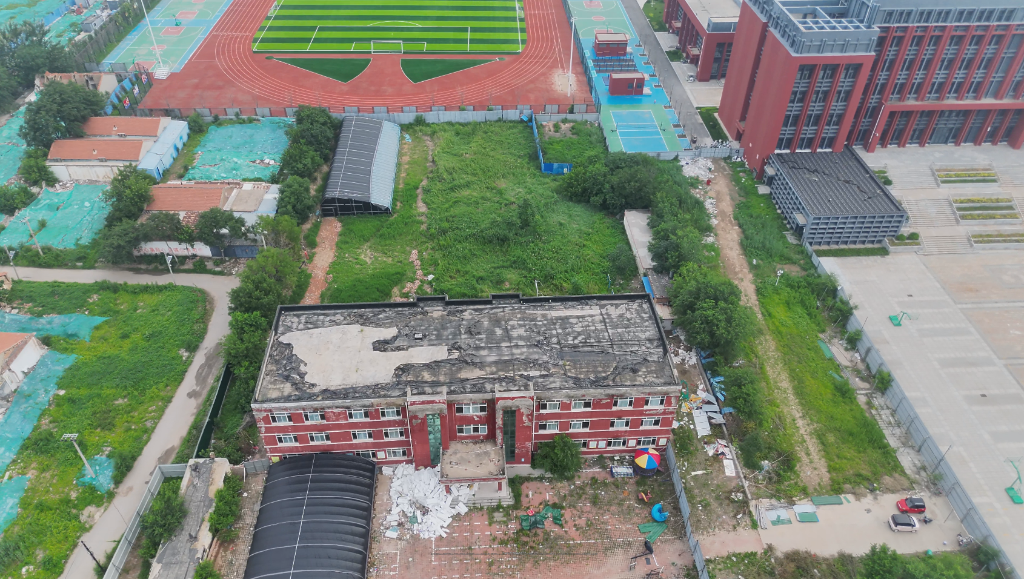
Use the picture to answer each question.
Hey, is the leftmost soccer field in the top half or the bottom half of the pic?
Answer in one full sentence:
Seen from above, the leftmost soccer field lies in the top half of the view.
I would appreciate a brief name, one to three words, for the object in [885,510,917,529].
car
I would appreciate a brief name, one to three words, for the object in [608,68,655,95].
shed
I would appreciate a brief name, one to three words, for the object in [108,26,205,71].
basketball court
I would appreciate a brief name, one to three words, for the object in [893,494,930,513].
car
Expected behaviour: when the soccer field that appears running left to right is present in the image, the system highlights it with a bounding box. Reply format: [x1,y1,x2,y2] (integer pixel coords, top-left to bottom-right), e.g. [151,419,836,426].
[245,0,527,55]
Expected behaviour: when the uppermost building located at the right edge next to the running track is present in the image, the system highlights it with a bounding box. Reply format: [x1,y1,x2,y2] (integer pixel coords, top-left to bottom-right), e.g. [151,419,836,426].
[719,0,1024,179]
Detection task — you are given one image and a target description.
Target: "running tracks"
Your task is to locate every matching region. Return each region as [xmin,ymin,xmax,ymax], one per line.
[121,0,595,116]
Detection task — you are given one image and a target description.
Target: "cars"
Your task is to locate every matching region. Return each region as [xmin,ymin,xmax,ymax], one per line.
[893,494,930,513]
[885,510,917,529]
